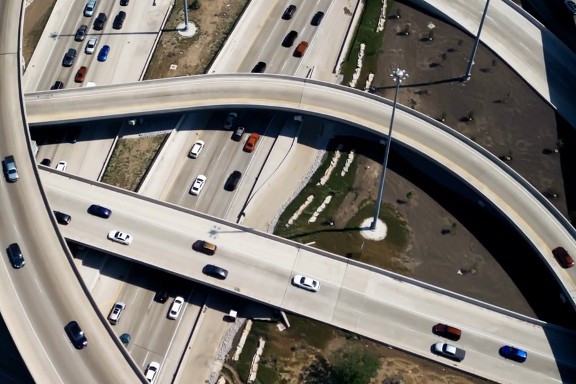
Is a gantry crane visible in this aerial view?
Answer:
No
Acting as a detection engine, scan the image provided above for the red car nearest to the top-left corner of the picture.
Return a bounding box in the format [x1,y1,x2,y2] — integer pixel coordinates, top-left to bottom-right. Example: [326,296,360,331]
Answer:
[74,66,88,83]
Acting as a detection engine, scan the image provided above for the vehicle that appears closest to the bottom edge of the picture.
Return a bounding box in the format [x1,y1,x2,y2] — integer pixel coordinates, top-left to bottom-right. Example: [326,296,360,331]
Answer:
[145,358,160,384]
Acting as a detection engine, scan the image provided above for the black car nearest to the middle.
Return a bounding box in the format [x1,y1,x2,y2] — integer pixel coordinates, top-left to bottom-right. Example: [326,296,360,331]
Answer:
[225,170,240,191]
